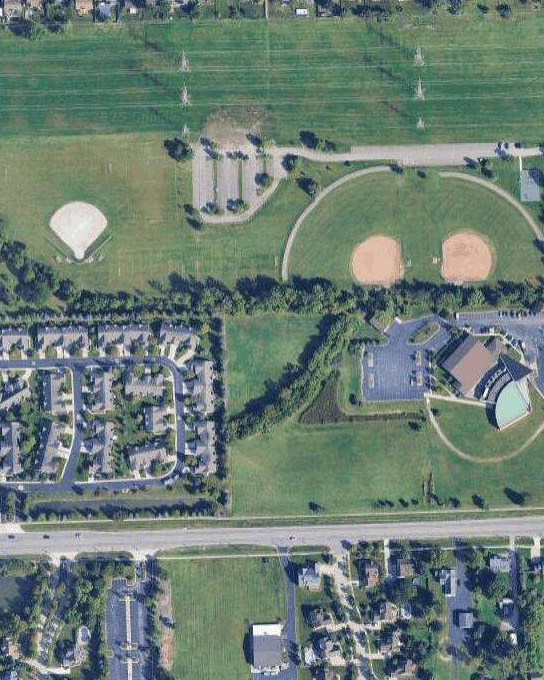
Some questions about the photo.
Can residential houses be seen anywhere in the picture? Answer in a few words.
Yes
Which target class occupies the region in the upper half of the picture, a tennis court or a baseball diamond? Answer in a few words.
baseball diamond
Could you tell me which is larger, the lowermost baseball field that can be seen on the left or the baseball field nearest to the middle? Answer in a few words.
the baseball field nearest to the middle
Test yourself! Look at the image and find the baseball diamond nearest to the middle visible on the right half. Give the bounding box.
[288,173,422,288]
